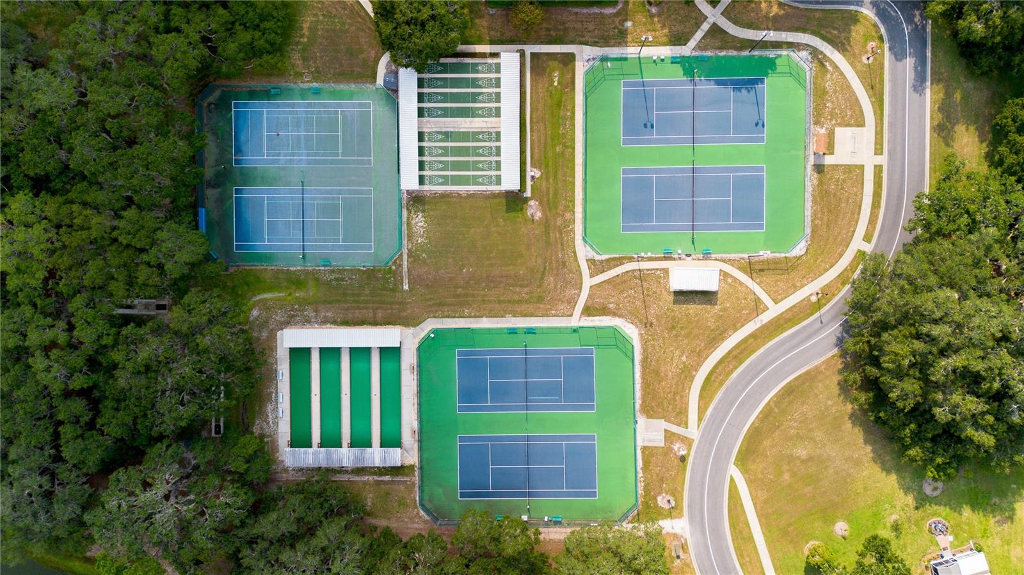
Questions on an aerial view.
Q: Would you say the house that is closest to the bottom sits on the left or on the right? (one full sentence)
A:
It is on the right.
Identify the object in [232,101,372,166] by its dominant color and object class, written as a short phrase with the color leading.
blue tennis court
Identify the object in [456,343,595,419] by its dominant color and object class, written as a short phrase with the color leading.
blue tennis court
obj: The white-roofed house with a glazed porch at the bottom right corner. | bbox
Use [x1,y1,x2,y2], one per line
[924,540,991,575]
